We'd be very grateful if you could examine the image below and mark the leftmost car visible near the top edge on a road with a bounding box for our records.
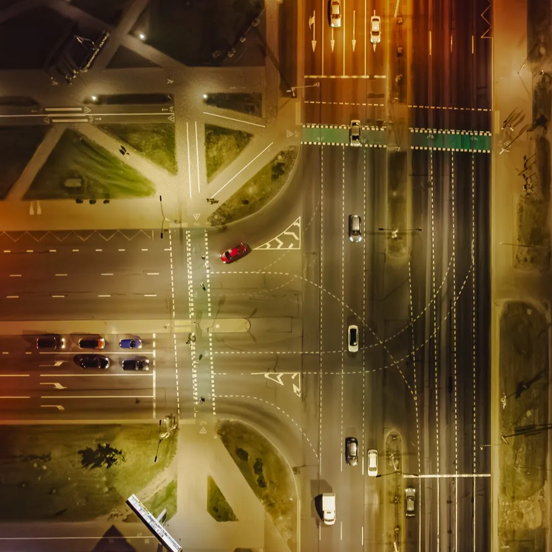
[327,0,341,26]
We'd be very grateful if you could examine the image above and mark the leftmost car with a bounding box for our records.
[35,336,65,349]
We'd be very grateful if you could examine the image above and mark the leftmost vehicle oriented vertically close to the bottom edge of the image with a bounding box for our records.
[321,493,336,526]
